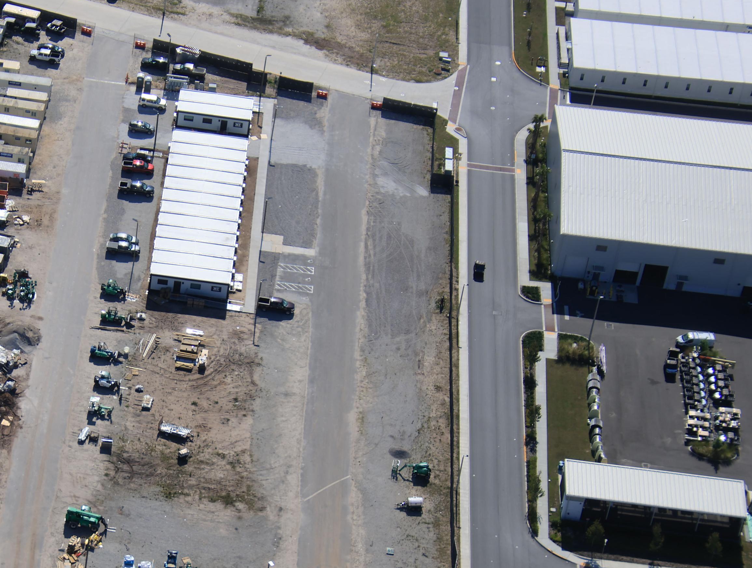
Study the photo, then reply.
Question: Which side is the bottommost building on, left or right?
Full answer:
It is on the right.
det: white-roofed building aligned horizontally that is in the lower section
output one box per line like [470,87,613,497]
[563,454,748,542]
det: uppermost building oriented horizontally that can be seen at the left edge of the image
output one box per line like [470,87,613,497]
[0,71,52,99]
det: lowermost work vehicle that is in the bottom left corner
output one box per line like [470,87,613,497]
[63,496,127,533]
